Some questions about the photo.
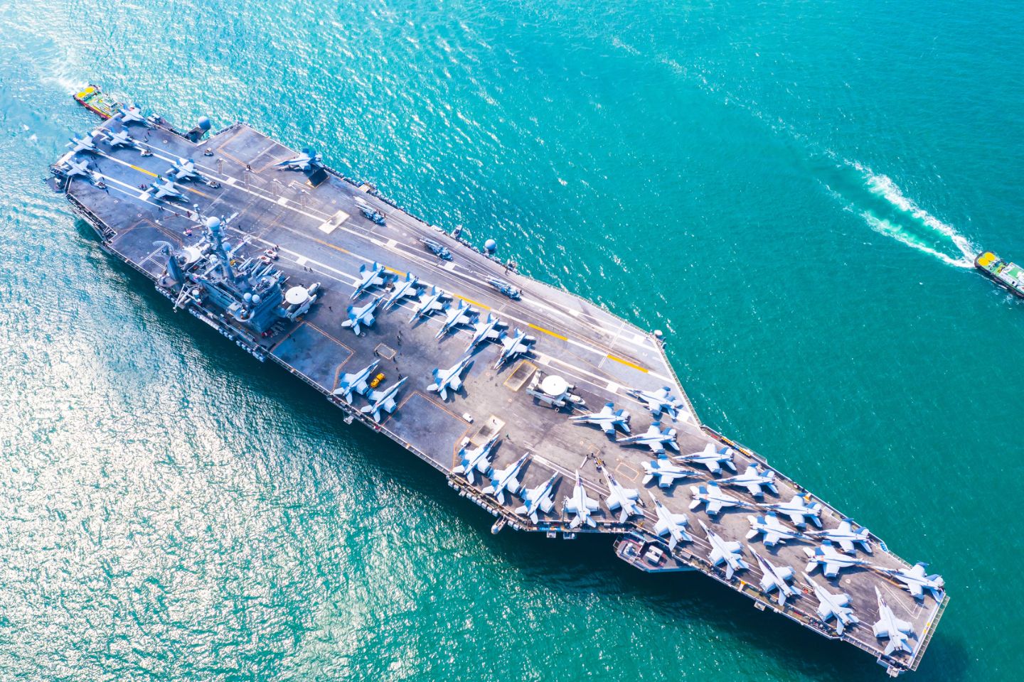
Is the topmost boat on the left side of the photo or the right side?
left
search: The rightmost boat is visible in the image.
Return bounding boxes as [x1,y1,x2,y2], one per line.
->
[976,251,1024,301]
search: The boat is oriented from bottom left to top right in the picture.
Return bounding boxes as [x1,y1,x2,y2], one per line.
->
[492,518,506,532]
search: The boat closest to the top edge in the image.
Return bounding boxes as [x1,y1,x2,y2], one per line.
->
[77,84,127,120]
